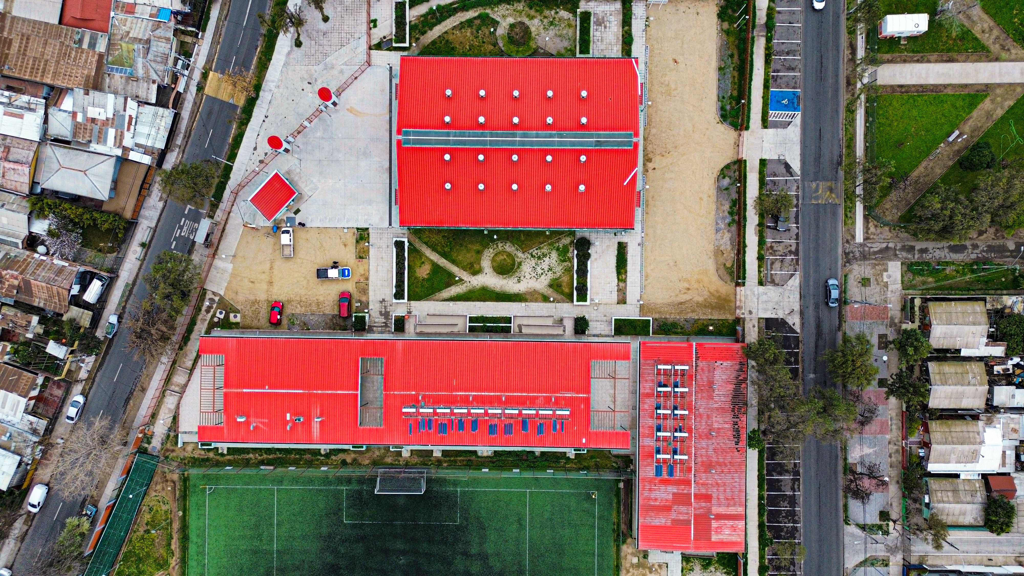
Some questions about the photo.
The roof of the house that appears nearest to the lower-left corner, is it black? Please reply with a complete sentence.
No, the roof of the house that appears nearest to the lower-left corner is actually white.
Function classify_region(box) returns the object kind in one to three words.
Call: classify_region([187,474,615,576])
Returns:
soccer field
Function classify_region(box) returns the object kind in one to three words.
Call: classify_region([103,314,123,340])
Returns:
car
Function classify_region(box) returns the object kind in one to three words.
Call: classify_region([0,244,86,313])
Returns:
house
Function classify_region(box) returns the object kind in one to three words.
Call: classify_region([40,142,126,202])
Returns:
house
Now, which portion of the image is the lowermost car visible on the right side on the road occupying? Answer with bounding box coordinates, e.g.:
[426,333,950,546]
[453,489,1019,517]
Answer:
[824,278,840,308]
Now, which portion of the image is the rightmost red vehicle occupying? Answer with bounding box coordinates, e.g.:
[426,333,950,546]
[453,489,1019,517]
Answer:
[338,291,352,318]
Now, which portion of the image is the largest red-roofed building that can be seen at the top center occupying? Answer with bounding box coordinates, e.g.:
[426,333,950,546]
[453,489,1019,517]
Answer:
[395,55,643,230]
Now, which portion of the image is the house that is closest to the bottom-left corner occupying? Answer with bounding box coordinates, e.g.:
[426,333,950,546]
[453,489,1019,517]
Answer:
[0,442,42,491]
